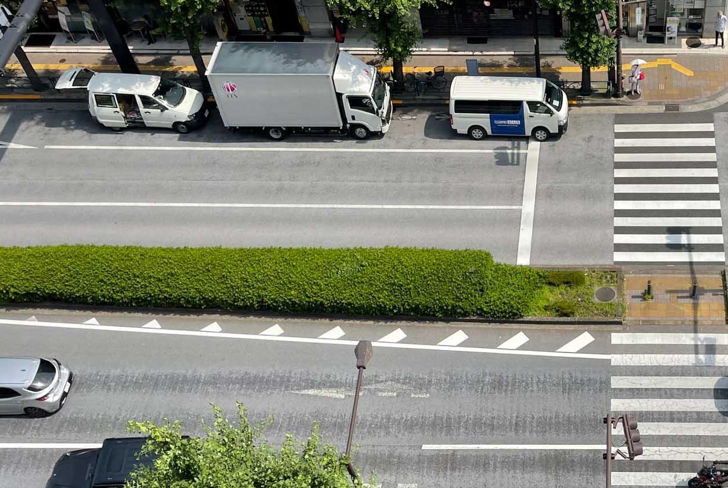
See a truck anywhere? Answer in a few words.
Yes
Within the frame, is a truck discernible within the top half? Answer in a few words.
Yes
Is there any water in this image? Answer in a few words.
No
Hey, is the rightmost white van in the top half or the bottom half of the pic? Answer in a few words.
top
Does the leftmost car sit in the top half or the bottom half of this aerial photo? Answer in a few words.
bottom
